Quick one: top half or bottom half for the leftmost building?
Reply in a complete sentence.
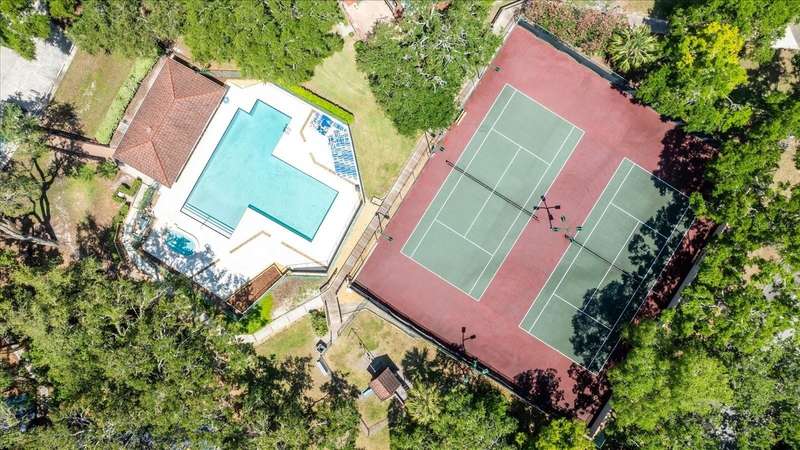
You can find the leftmost building in the top half.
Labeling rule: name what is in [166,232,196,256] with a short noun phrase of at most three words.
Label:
swimming pool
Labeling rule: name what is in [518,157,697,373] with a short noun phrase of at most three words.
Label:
tennis court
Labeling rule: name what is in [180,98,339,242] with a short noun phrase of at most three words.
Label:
swimming pool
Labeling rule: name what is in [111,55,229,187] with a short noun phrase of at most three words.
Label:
building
